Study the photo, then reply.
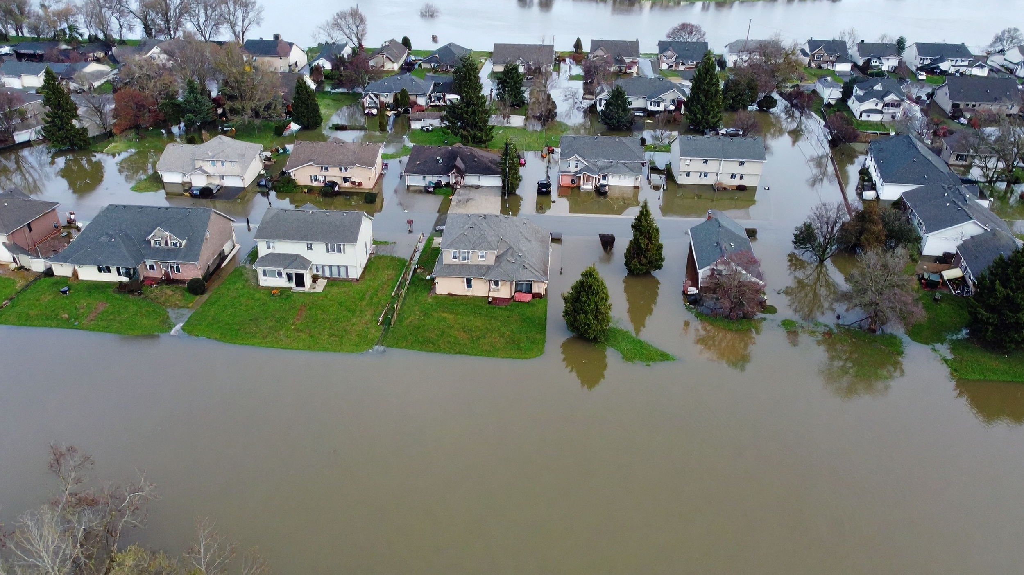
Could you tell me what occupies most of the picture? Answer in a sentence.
The scene is dominated by water.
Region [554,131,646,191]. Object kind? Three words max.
house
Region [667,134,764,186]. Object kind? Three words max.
house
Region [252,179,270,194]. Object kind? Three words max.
car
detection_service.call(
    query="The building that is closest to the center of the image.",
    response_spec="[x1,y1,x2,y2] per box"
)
[429,217,552,308]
